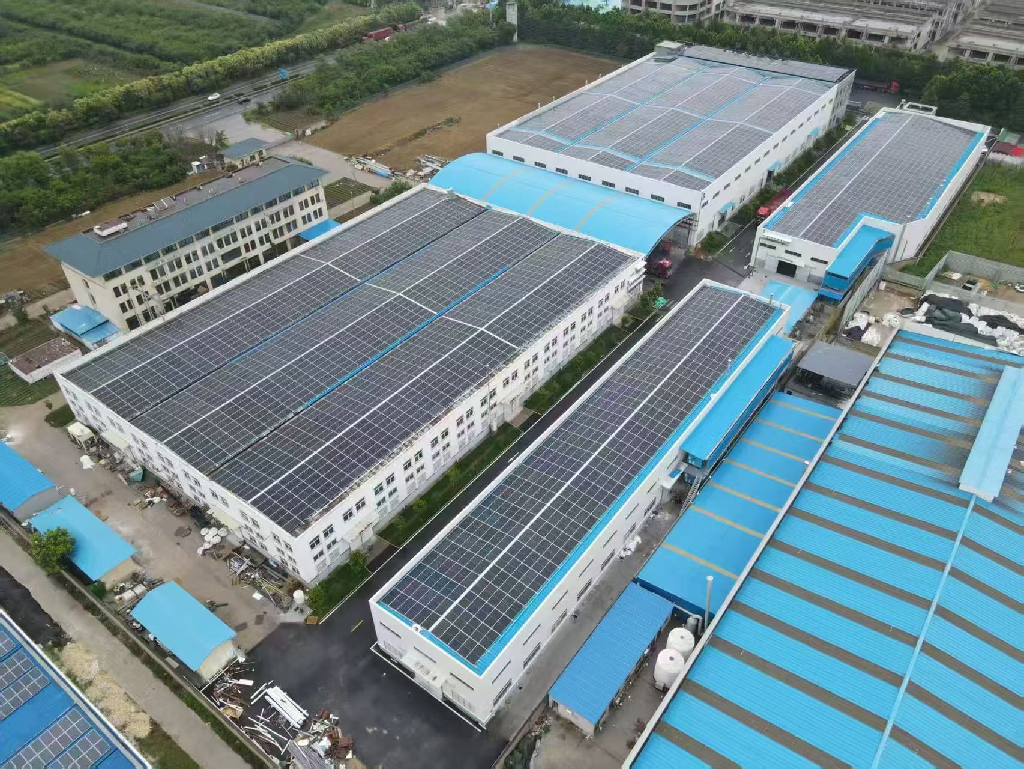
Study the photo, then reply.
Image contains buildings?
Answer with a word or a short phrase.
Yes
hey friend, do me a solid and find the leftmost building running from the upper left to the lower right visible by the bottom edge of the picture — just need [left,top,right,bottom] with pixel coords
[0,611,152,769]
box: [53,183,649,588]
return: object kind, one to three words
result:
building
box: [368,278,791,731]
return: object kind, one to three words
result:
building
